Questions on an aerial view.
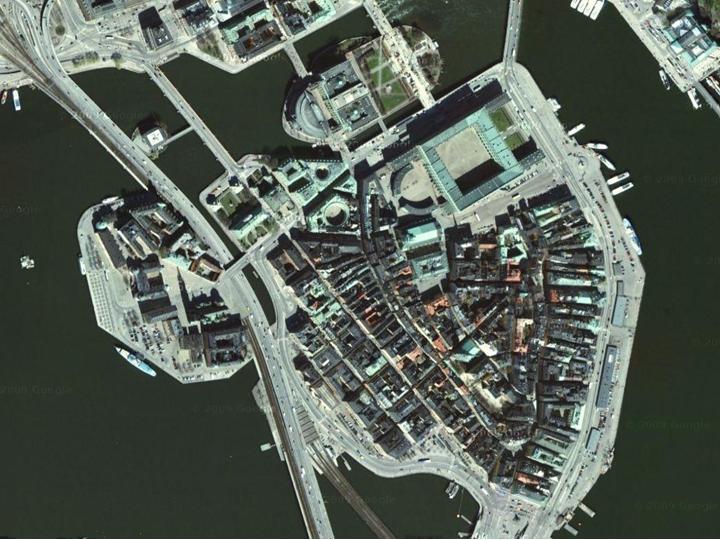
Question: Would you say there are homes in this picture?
Yes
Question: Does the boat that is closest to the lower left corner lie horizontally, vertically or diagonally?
diagonally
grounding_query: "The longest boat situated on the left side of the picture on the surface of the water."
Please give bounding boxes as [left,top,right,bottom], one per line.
[114,346,158,378]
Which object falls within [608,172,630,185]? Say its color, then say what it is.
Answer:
white boat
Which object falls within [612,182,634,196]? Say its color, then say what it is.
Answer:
white boat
